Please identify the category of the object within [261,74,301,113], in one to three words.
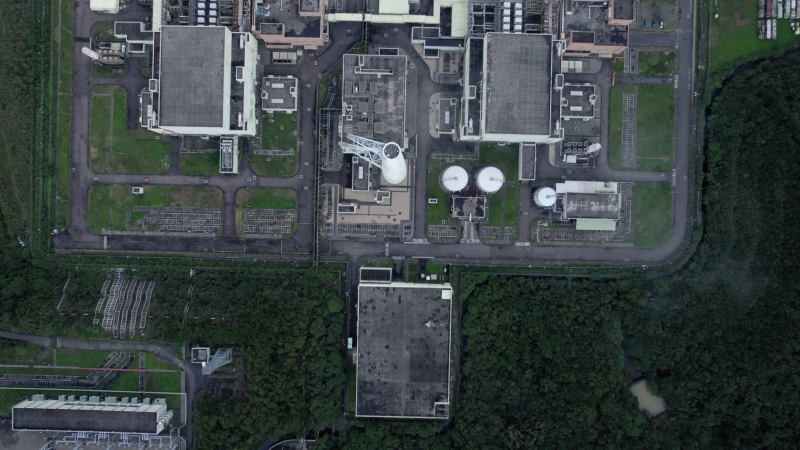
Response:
building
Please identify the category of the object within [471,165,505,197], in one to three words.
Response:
storage tank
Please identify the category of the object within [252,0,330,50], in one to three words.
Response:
building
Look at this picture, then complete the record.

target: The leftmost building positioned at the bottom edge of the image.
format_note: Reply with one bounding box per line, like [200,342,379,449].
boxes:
[12,400,167,433]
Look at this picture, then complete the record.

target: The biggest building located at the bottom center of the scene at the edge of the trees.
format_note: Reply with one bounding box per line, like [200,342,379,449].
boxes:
[353,283,452,418]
